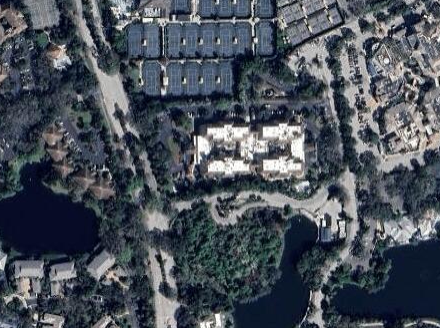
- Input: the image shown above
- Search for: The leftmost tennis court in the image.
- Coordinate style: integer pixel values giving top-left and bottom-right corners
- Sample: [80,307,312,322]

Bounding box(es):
[27,0,60,29]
